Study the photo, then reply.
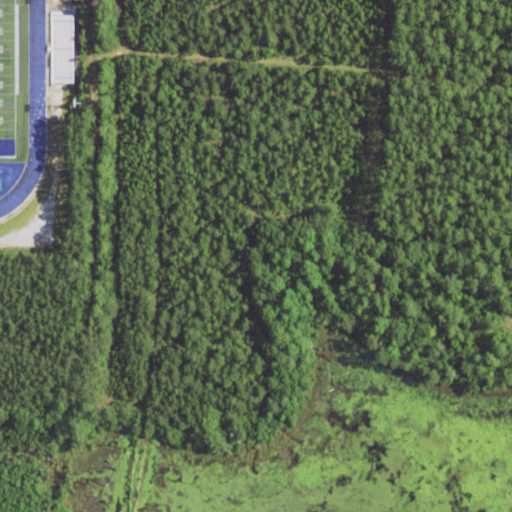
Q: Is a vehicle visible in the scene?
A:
No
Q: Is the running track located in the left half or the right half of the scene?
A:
left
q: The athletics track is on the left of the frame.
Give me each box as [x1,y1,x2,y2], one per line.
[0,0,46,219]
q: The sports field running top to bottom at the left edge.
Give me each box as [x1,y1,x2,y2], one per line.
[0,0,28,196]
